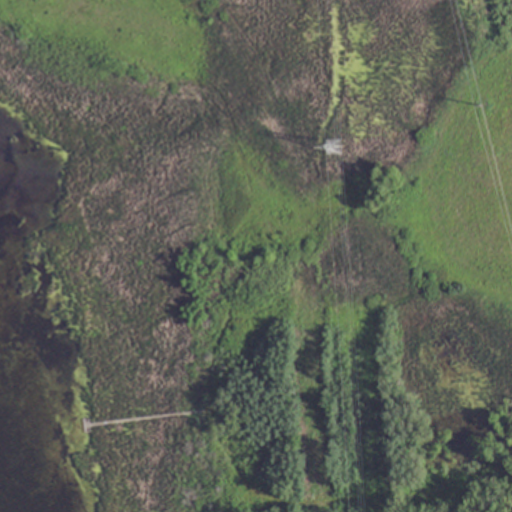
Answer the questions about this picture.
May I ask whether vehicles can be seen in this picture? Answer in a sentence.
No, no vehicle can be seen from above.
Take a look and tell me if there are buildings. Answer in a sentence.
No, there isn't any building down there.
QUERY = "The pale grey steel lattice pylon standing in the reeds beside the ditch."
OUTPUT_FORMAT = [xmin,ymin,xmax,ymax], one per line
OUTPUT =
[314,140,344,158]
